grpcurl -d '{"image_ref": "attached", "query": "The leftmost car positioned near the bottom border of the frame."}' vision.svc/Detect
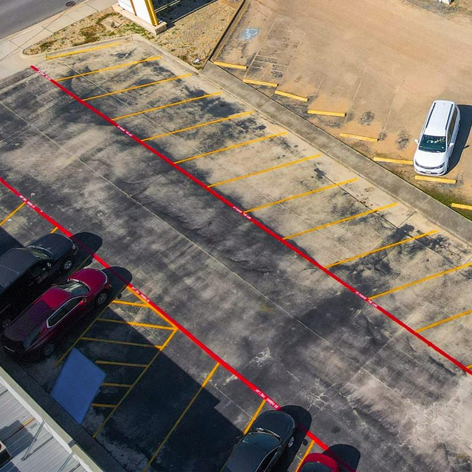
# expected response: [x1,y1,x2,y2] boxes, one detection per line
[200,403,291,472]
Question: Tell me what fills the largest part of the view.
paved ground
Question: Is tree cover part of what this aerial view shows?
No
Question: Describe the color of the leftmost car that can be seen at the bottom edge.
black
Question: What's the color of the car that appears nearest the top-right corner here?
white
